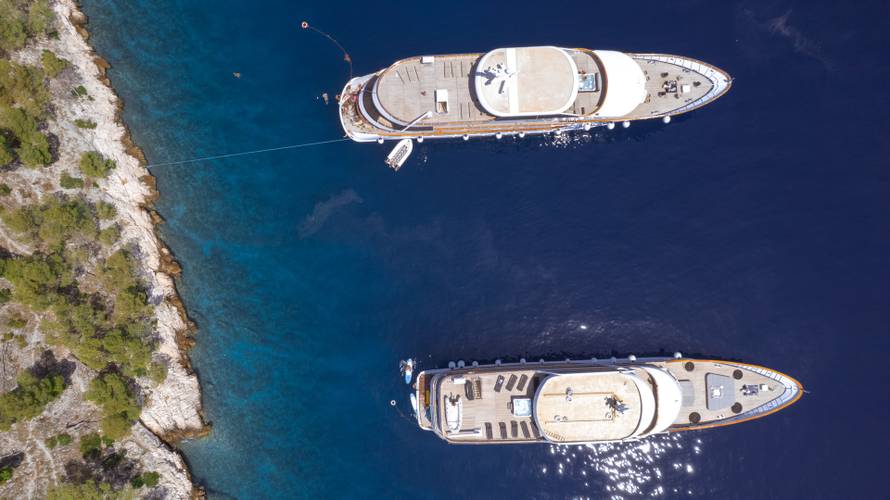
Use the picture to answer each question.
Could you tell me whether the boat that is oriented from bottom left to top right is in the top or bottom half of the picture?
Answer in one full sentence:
You can find the boat that is oriented from bottom left to top right in the top half.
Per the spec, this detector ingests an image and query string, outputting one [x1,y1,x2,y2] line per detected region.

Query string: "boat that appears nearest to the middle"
[387,140,415,171]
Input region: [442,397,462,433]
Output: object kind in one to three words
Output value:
boat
